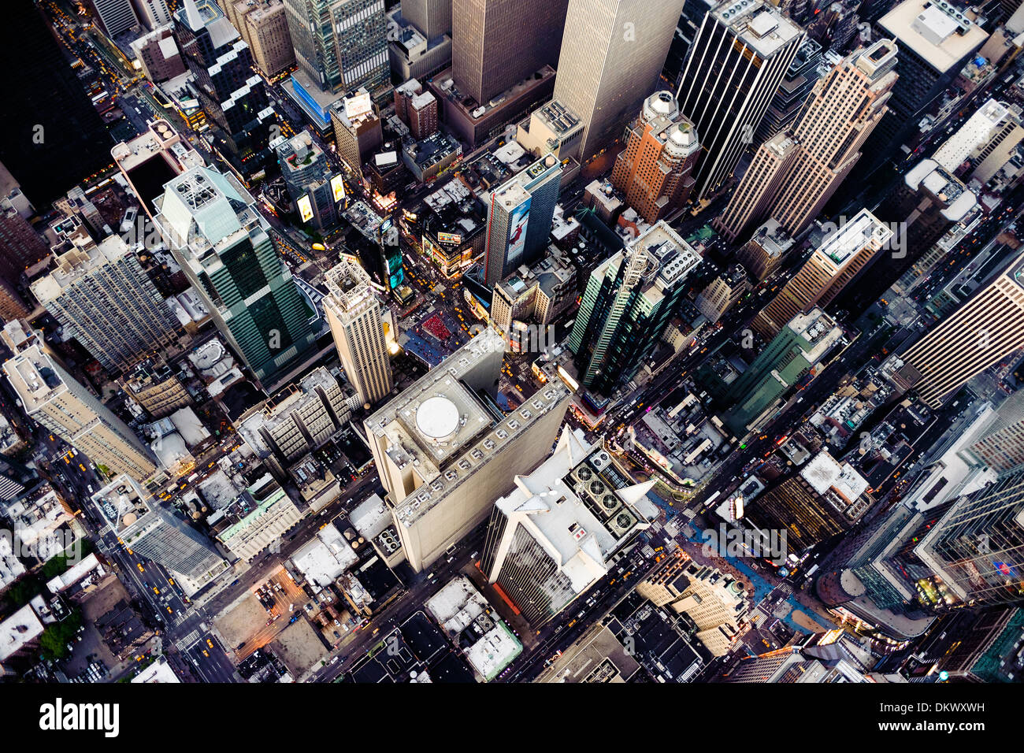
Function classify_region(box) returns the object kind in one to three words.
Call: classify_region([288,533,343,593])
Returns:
building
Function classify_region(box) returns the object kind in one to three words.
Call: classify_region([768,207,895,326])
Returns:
building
